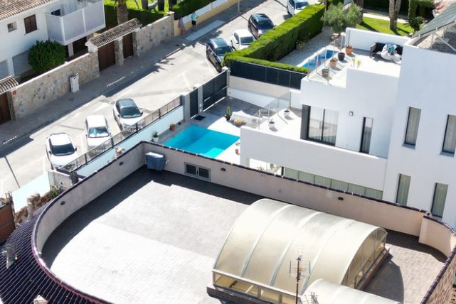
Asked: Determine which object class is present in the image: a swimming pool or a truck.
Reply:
swimming pool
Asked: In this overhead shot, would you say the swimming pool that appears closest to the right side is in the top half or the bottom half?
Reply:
top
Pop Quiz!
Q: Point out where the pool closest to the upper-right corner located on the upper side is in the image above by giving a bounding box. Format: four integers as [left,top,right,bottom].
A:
[299,44,343,69]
